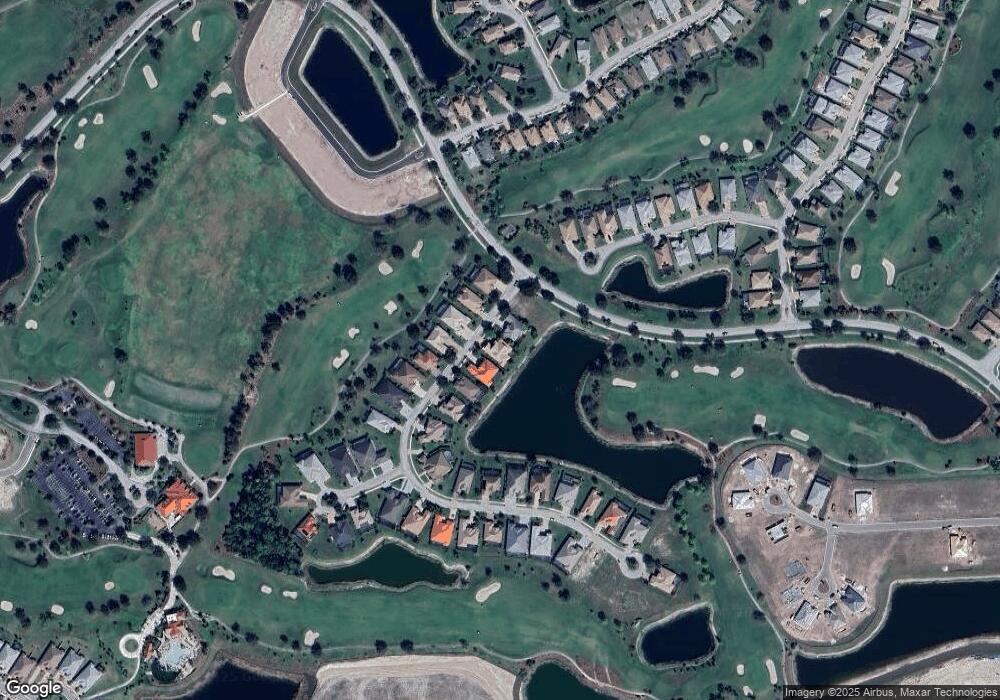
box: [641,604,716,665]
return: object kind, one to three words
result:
pond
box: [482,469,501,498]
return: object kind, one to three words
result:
house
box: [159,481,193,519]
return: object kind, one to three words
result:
building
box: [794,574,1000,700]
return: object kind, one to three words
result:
pond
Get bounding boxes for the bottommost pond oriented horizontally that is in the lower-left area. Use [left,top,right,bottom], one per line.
[182,660,300,700]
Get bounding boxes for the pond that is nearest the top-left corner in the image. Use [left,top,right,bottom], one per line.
[0,175,49,287]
